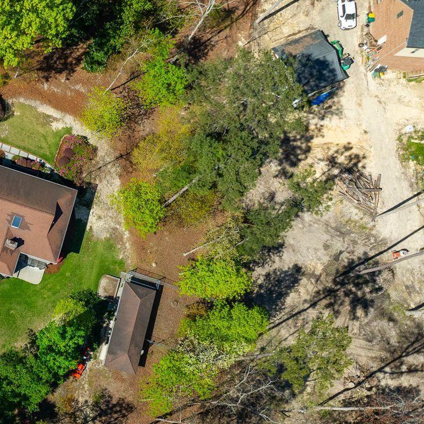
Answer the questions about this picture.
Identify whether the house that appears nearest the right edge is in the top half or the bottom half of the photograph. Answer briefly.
top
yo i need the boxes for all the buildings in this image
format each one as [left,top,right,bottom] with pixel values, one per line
[263,30,347,101]
[369,0,424,72]
[0,165,78,278]
[101,282,156,376]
